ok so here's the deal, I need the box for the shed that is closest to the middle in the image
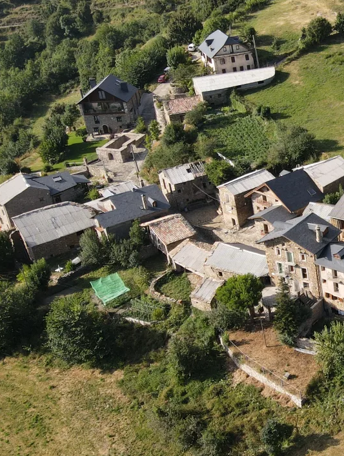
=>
[143,213,197,266]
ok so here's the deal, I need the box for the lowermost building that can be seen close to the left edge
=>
[9,203,95,259]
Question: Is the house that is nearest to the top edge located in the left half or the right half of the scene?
right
